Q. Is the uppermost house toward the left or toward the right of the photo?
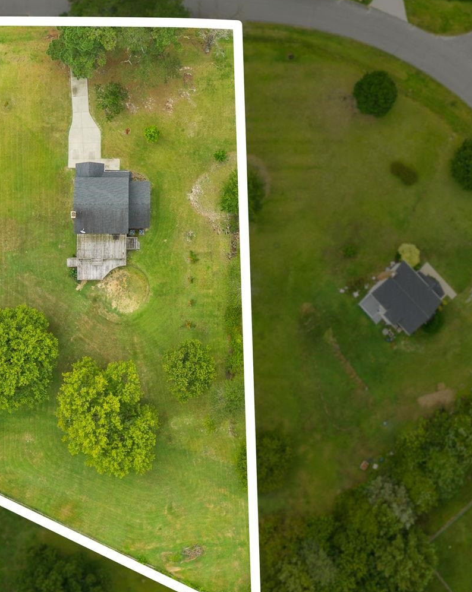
left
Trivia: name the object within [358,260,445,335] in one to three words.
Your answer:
house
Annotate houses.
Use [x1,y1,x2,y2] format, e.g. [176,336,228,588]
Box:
[358,260,445,335]
[71,160,151,234]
